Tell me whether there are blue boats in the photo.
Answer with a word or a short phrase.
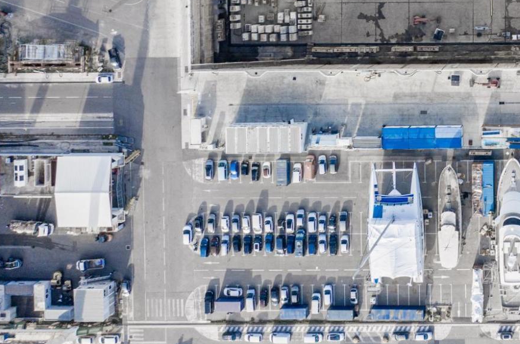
No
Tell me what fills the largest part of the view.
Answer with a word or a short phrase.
paved ground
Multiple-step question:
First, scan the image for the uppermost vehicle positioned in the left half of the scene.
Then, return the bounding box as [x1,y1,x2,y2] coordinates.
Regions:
[106,48,121,71]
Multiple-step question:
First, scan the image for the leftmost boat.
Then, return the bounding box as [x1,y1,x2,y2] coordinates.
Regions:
[352,162,426,286]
